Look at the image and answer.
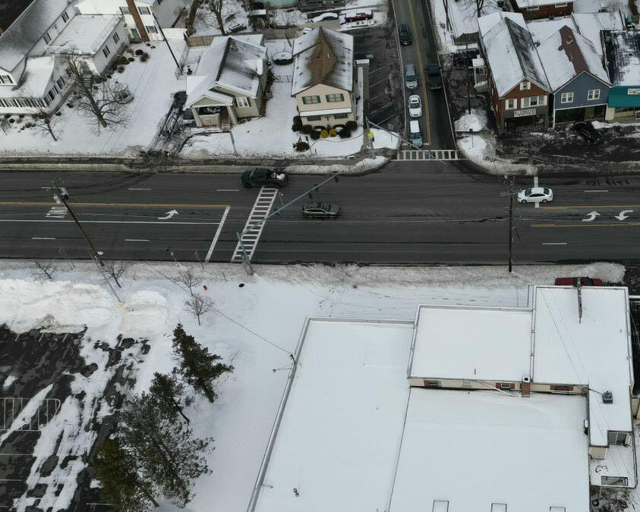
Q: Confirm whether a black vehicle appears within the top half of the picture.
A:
Yes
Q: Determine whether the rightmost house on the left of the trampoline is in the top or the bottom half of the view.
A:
top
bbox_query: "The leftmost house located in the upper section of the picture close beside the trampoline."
[179,34,272,129]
